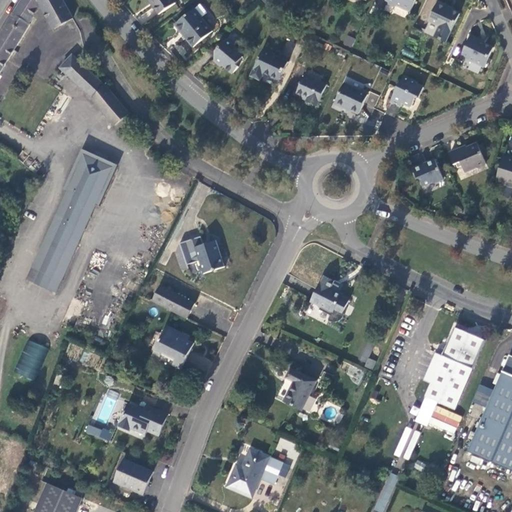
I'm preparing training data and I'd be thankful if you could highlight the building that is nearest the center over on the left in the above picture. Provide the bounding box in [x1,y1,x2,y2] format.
[180,238,226,276]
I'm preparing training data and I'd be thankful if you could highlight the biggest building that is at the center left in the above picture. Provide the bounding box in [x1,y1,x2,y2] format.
[26,150,117,293]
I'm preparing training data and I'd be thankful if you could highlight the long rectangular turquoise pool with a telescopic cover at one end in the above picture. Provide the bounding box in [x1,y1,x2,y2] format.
[97,388,119,425]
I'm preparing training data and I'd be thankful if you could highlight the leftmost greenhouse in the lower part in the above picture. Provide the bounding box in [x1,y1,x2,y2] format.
[17,342,52,382]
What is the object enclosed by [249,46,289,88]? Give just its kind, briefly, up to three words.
house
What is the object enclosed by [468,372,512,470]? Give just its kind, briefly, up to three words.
building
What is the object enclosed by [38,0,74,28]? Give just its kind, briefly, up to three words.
building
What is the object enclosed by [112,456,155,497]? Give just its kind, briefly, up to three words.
house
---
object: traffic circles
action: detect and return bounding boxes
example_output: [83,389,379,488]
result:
[296,149,373,225]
